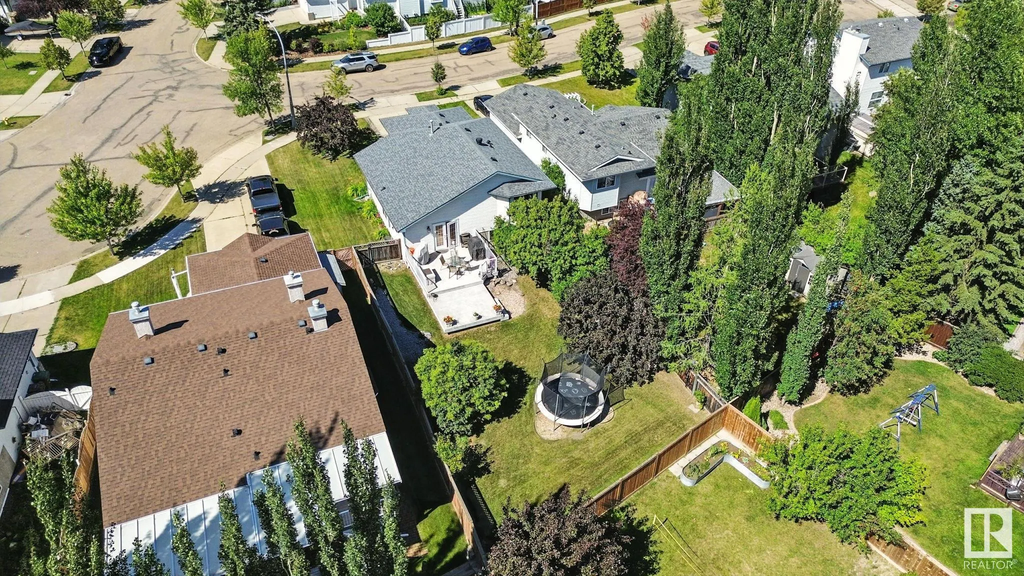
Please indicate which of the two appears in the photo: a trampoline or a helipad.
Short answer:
trampoline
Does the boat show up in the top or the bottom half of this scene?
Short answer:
top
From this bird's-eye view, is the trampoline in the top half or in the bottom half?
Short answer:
bottom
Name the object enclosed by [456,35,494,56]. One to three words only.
car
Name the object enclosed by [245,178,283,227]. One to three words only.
truck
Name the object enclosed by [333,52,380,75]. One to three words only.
car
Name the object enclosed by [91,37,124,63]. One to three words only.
truck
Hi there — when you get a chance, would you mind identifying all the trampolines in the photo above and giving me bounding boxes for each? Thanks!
[533,350,608,437]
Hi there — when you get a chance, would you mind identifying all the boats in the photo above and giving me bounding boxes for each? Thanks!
[0,16,68,39]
